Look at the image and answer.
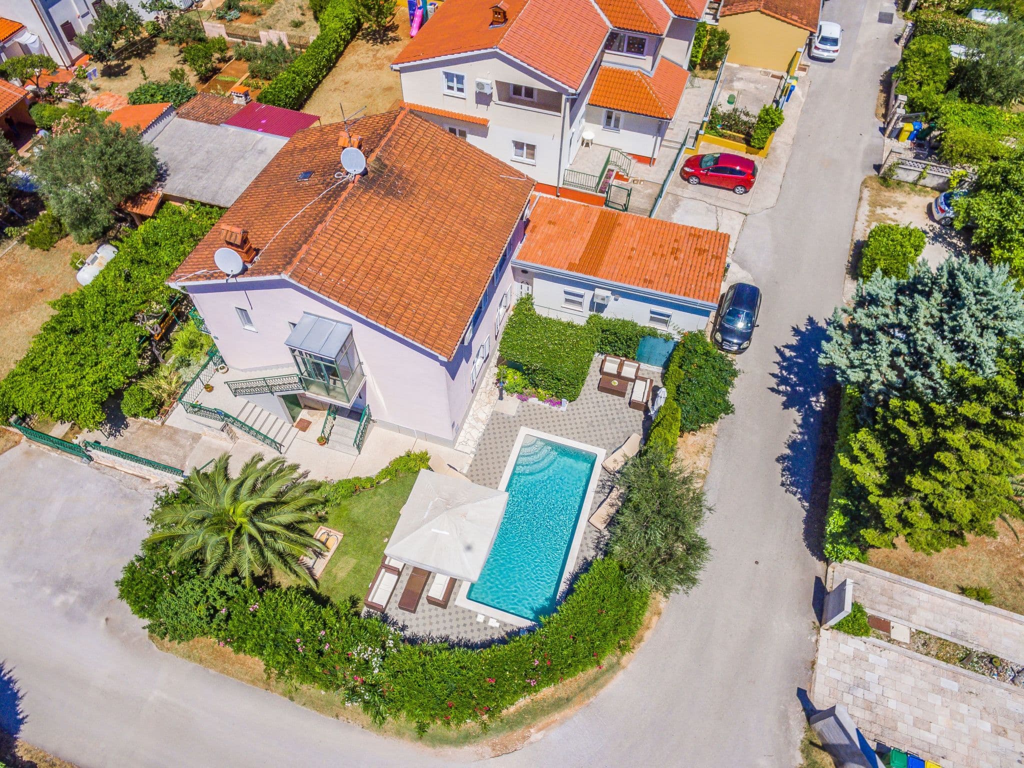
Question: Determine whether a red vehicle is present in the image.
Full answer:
Yes, the frame does contain a red vehicle.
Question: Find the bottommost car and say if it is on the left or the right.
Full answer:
It is on the right.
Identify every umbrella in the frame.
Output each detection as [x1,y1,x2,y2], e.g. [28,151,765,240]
[384,469,508,583]
[647,391,666,428]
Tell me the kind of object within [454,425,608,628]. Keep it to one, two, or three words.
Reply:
swimming pool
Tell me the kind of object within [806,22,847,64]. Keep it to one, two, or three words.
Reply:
car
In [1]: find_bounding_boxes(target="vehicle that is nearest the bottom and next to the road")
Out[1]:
[714,281,765,355]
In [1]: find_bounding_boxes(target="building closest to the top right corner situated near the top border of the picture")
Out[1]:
[720,0,829,71]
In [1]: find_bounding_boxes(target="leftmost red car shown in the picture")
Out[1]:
[683,152,761,196]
